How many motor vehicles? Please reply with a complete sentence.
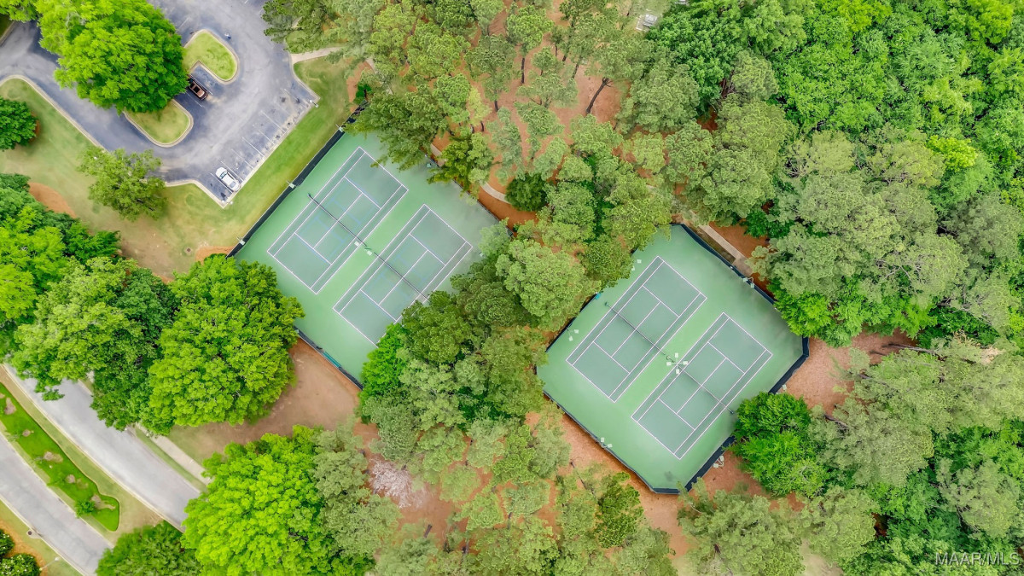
Looking from above, you can make out 2 motor vehicles.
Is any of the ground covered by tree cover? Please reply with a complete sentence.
Yes, the picture does contain tree cover.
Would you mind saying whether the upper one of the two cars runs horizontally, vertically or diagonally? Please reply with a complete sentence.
The upper one of the two cars is oriented diagonally.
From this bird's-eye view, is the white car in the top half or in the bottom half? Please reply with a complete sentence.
The top half of the photo is where the white car is.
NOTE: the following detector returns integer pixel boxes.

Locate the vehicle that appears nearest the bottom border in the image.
[217,167,242,193]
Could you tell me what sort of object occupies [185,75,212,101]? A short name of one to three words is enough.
car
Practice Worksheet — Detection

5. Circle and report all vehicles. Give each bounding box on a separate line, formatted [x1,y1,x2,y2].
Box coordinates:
[217,167,242,193]
[185,75,212,101]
